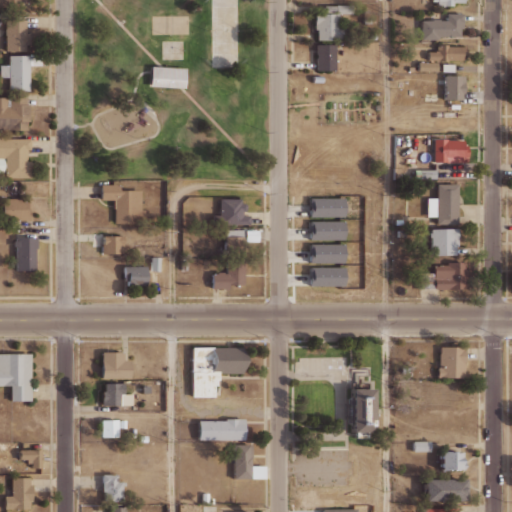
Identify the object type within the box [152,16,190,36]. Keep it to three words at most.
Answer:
sports court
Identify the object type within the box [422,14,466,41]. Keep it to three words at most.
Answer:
house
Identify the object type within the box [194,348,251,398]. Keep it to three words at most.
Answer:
building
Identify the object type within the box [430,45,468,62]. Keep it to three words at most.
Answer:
house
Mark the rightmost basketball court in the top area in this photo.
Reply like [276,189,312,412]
[212,0,238,67]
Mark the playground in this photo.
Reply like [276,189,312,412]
[94,105,158,146]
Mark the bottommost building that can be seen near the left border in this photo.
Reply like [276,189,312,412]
[6,478,35,512]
